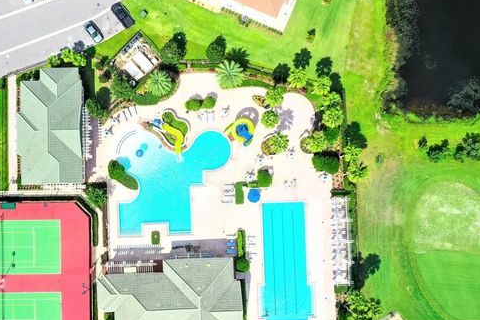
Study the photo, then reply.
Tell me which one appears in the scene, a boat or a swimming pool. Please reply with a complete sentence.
This aerial view contains a swimming pool.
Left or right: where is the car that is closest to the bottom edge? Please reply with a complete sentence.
The car that is closest to the bottom edge sits on the left side.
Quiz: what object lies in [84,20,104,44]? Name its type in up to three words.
car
